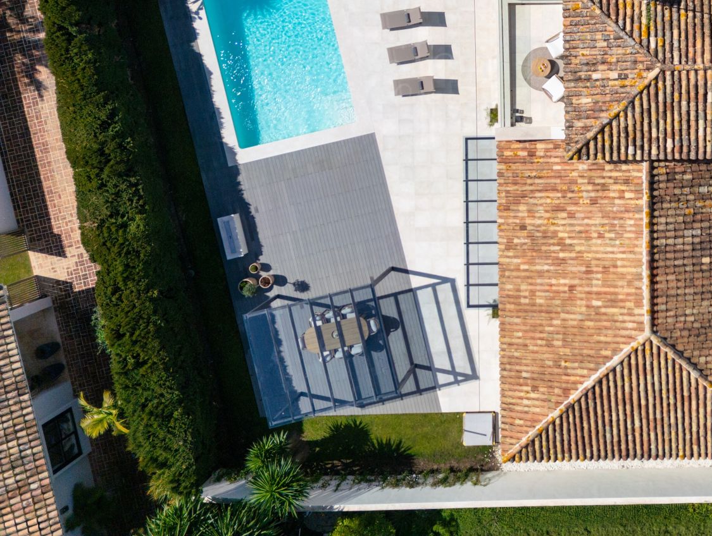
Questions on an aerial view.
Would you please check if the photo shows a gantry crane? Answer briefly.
No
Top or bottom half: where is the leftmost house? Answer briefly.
bottom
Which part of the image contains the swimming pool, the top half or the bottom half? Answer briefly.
top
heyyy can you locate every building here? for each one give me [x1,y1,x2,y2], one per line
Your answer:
[464,0,712,470]
[0,267,112,536]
